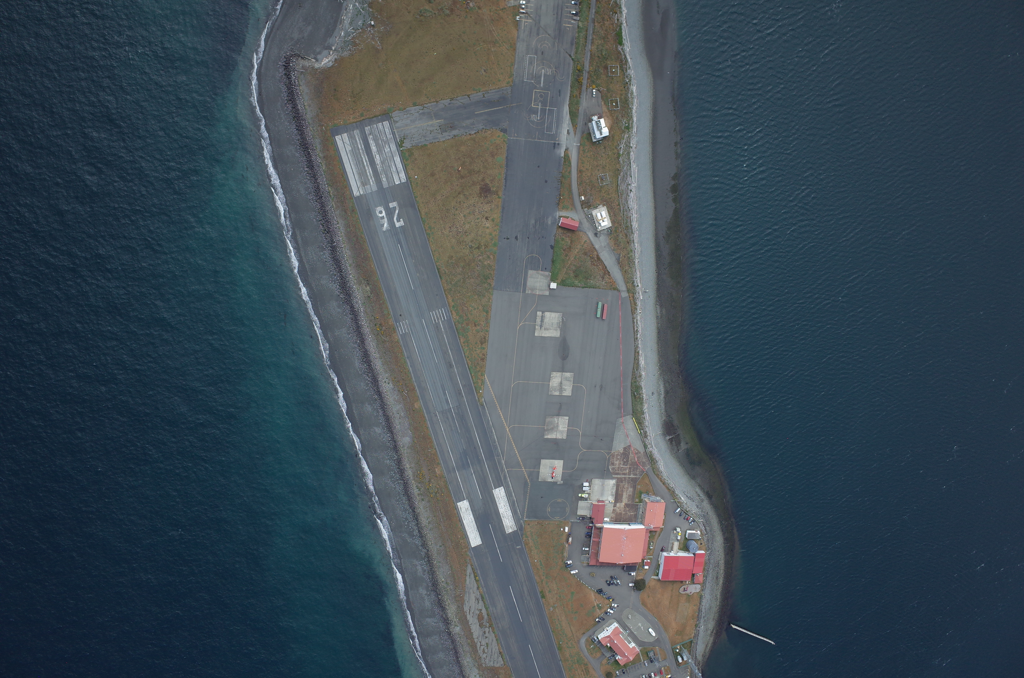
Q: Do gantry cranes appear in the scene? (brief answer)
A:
No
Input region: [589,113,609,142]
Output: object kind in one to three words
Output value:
house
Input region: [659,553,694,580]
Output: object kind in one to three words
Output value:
building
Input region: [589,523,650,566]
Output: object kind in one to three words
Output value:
hangar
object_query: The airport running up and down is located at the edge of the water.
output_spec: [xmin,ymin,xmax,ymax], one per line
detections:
[330,0,651,678]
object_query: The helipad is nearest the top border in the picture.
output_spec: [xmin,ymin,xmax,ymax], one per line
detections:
[526,270,551,295]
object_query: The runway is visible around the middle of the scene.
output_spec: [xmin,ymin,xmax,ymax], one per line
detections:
[330,114,565,678]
